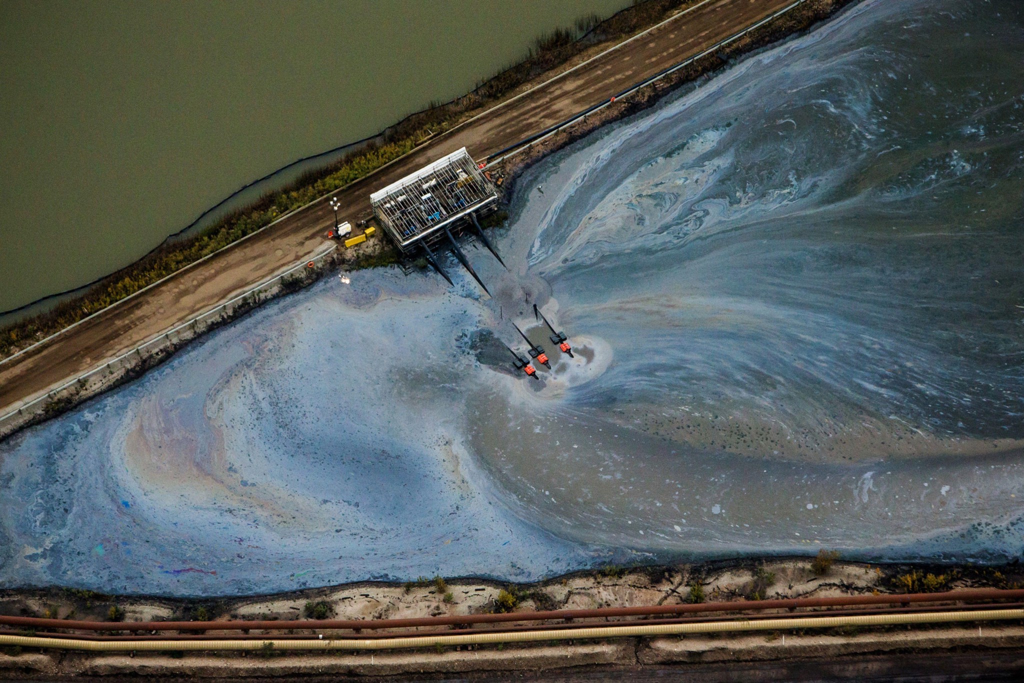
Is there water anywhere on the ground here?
Yes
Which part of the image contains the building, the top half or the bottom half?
top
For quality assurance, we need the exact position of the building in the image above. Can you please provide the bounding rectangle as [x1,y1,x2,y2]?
[370,150,506,265]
